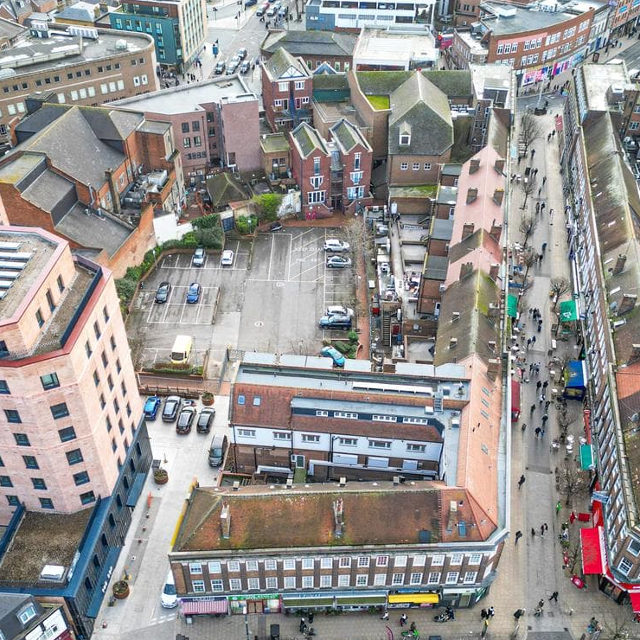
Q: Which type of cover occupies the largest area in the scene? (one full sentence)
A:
What you mostly see from above here is buildings.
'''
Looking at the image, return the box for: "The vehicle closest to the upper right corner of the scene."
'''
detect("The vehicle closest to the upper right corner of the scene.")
[627,65,640,78]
